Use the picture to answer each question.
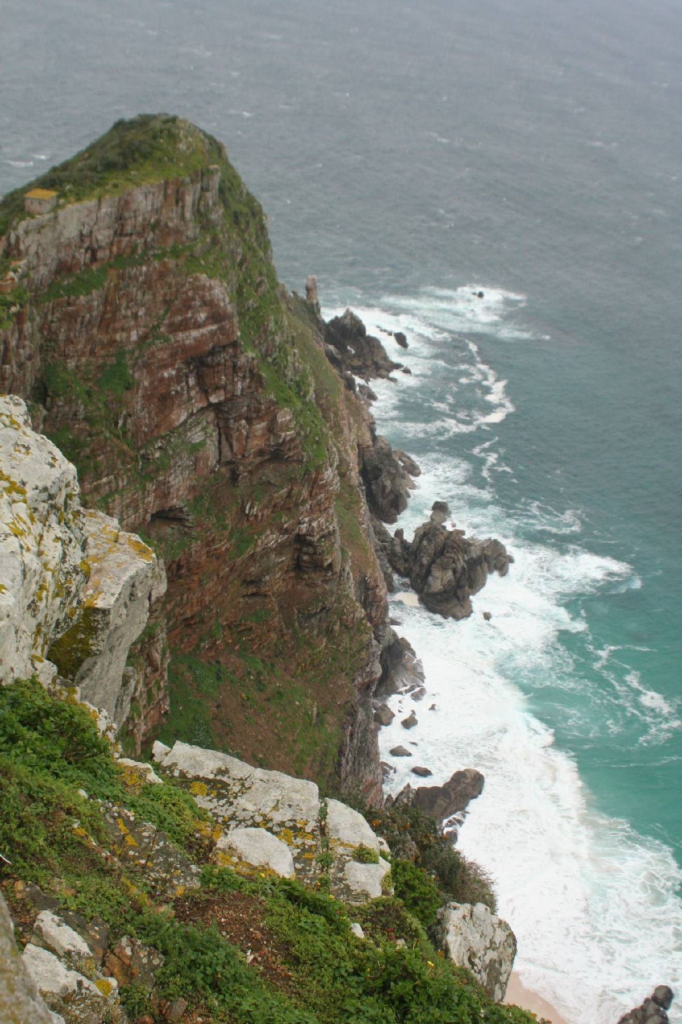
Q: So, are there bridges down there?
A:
No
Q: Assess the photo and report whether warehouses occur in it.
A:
No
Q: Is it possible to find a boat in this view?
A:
No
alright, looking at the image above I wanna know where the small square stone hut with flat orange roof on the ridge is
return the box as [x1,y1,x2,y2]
[26,190,61,222]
